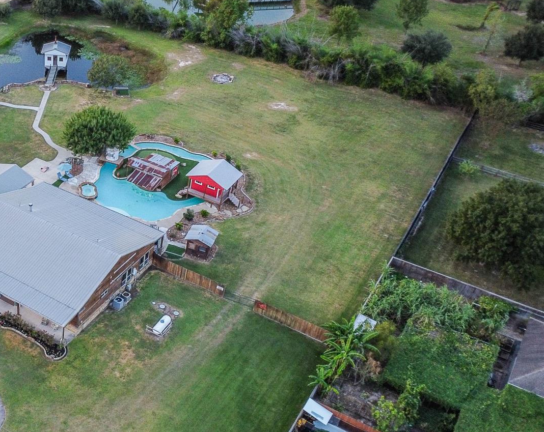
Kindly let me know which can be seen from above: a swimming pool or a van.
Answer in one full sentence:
The one in the frame is a swimming pool.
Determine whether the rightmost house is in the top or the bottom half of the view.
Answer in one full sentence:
You can find the rightmost house in the bottom half.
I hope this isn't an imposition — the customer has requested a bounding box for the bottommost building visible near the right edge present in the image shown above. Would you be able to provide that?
[507,324,544,403]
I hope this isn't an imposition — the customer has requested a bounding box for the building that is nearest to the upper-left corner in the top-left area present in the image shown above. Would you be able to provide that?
[42,41,70,83]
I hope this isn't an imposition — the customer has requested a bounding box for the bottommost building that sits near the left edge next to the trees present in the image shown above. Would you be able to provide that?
[0,179,164,343]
